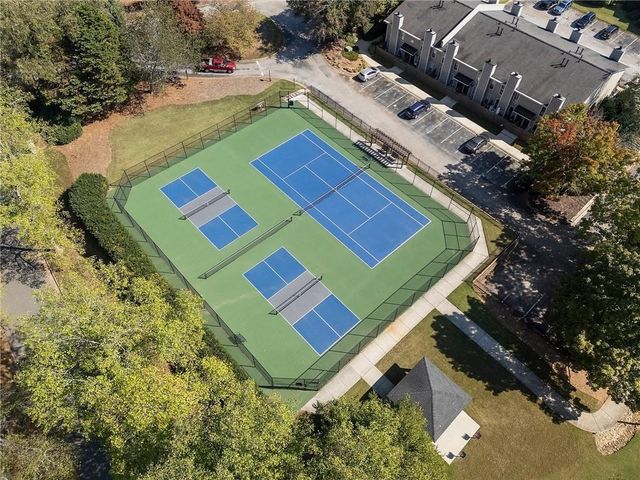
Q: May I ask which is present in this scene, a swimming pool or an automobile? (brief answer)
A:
automobile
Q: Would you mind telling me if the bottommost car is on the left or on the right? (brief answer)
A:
right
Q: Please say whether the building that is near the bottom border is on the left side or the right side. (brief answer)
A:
right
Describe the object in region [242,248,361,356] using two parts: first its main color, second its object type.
blue sports court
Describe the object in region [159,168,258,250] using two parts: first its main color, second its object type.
blue sports court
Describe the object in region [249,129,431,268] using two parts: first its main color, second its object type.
blue tennis court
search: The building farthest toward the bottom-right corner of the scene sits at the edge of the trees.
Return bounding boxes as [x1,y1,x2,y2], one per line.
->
[385,356,481,464]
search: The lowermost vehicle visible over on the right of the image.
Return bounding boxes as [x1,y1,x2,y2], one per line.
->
[461,136,488,157]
